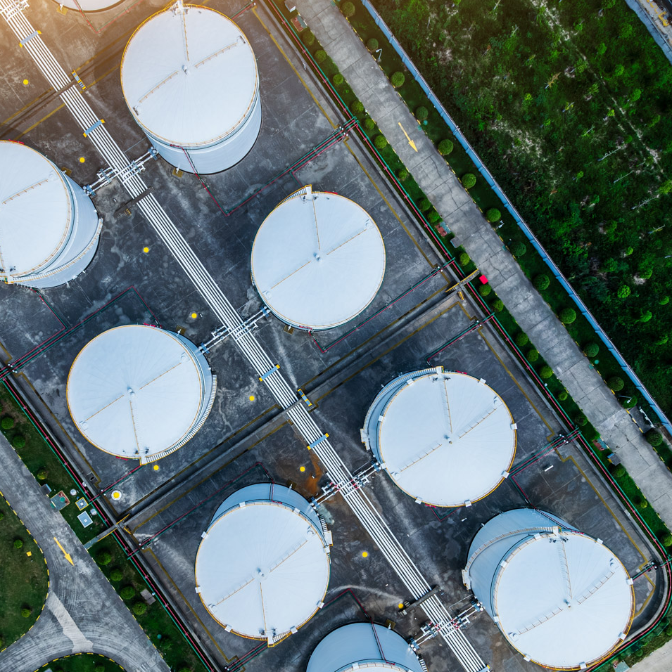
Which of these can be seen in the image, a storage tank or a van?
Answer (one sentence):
This aerial view contains a storage tank.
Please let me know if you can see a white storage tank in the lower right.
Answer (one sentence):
Yes, a white storage tank shows up in the lower right.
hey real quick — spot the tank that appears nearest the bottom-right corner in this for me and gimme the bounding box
[463,506,636,671]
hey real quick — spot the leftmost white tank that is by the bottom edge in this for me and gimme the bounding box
[192,477,334,650]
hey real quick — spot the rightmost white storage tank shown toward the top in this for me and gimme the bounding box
[248,180,388,338]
